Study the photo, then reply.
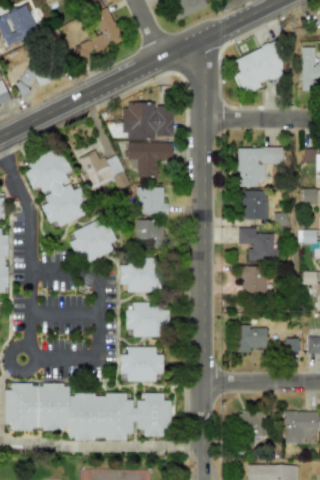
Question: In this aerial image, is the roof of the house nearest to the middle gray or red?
gray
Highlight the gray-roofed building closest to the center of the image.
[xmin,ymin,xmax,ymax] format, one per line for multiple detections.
[136,220,164,246]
